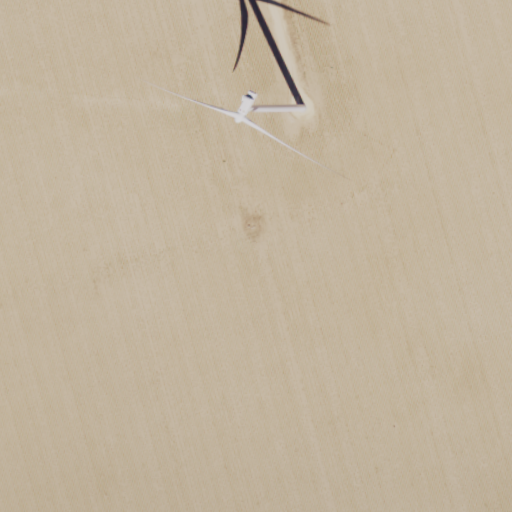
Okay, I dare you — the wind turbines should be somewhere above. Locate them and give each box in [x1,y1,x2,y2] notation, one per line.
[142,81,343,178]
